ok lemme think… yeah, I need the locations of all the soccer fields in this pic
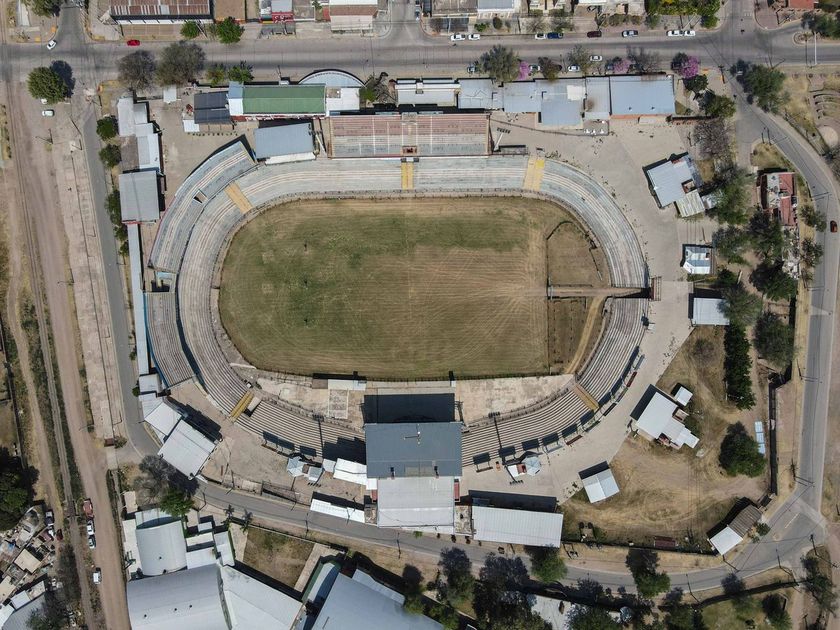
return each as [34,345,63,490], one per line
[209,189,646,450]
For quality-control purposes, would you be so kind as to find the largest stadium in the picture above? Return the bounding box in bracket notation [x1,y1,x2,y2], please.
[144,112,660,531]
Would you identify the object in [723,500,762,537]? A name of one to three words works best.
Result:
barn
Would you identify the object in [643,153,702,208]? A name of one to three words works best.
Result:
house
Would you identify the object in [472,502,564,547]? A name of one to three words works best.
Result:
building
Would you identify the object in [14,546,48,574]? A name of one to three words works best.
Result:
house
